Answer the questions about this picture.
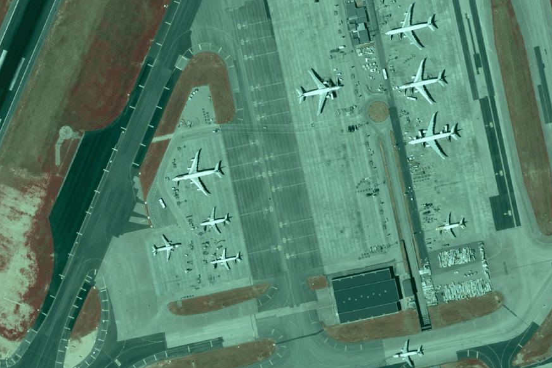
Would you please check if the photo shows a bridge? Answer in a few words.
No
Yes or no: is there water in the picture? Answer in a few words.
No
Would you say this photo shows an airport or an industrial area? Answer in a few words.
airport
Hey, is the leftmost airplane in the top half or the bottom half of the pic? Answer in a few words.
bottom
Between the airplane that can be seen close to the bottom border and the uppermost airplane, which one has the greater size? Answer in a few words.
the uppermost airplane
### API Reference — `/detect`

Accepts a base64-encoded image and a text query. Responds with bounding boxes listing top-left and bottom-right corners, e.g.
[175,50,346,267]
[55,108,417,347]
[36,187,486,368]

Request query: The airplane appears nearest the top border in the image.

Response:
[385,1,438,50]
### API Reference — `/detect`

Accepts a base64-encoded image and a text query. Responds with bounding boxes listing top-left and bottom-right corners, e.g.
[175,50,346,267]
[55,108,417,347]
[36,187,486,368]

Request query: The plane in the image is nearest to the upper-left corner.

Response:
[172,149,225,197]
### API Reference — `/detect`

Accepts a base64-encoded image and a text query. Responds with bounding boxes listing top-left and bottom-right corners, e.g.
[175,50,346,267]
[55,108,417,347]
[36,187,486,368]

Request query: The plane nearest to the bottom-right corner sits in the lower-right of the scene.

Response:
[394,339,425,366]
